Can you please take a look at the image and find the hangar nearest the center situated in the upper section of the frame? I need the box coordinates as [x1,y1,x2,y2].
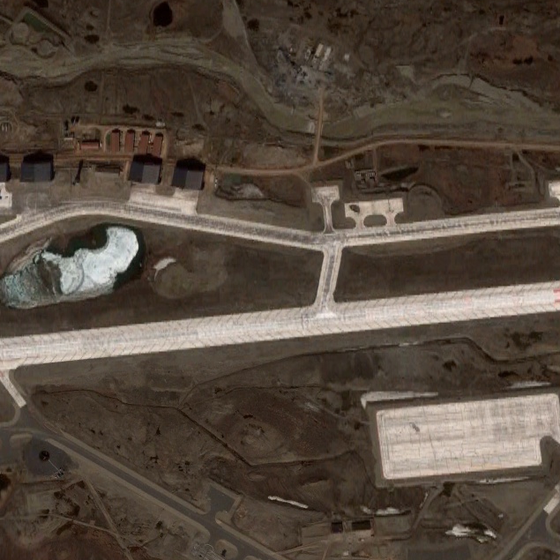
[171,166,204,190]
